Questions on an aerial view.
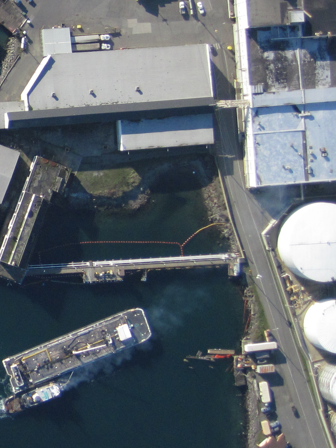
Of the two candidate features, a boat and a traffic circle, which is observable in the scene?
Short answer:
boat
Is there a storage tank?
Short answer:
Yes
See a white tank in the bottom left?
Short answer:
No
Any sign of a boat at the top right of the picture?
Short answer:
No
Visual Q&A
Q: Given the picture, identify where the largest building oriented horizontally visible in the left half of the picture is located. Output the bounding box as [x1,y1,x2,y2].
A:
[4,44,214,121]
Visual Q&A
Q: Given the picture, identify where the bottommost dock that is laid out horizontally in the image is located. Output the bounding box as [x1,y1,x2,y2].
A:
[25,250,229,275]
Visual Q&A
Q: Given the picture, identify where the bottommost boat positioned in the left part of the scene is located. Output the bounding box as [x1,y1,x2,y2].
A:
[2,383,61,414]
